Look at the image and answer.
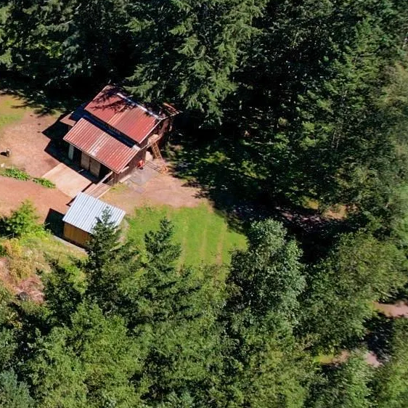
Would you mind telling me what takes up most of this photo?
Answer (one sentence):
The bulk of the photo consists of trees.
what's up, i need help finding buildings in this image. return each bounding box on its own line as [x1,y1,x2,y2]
[62,82,178,190]
[62,192,125,252]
